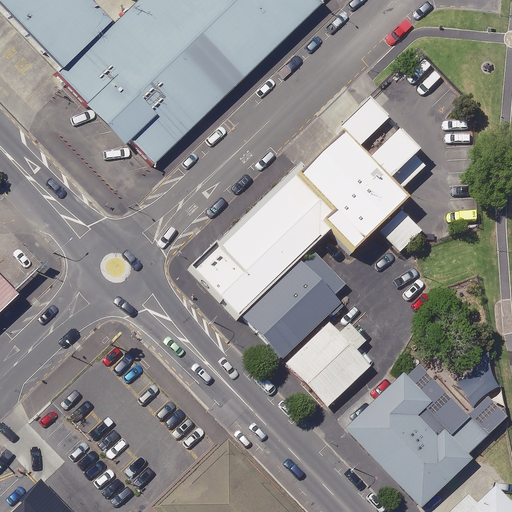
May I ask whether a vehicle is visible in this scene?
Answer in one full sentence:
Yes, there's a vehicle here.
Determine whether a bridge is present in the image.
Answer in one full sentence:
No, the photo shows no bridge.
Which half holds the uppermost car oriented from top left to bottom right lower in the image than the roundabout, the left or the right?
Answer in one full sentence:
It is on the left.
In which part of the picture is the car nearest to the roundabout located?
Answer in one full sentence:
Look in the left portion of the view to spot the car nearest to the roundabout.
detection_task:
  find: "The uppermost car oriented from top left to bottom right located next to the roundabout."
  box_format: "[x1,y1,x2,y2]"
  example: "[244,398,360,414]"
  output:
[122,249,144,272]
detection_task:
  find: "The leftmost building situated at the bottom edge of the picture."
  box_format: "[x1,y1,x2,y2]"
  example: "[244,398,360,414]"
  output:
[8,480,72,512]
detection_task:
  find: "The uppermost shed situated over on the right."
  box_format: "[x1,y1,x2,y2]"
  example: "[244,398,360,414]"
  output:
[338,97,388,144]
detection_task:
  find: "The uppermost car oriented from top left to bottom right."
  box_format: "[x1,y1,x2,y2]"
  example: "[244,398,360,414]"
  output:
[46,176,68,198]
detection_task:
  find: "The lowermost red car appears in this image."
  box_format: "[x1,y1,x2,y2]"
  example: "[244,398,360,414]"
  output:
[38,410,58,428]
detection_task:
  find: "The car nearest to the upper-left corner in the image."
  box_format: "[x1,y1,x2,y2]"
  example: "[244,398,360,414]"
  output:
[70,111,96,126]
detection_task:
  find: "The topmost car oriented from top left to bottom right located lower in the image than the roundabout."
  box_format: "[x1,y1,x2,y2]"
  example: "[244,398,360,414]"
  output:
[114,297,138,317]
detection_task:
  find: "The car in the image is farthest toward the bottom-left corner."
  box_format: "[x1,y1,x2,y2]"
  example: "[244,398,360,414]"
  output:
[6,487,26,506]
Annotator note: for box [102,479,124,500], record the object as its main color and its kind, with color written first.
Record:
black car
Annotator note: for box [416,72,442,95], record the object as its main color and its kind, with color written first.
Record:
white vehicle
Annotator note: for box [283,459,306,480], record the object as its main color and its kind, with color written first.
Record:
blue car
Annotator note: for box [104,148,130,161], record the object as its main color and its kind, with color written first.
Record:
white vehicle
